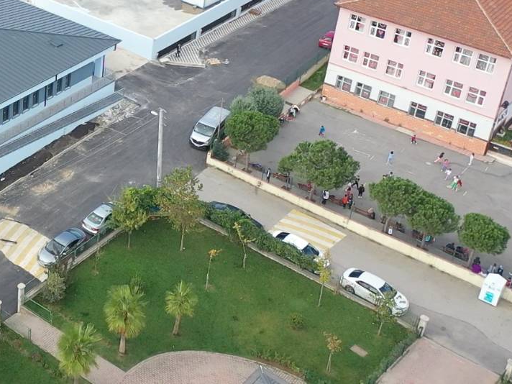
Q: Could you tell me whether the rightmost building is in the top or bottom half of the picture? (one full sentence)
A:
The rightmost building is in the top half of the image.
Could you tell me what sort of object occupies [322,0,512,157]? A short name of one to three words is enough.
building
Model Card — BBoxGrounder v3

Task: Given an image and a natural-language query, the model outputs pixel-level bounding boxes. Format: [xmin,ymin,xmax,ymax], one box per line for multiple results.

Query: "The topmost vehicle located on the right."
[316,30,336,53]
